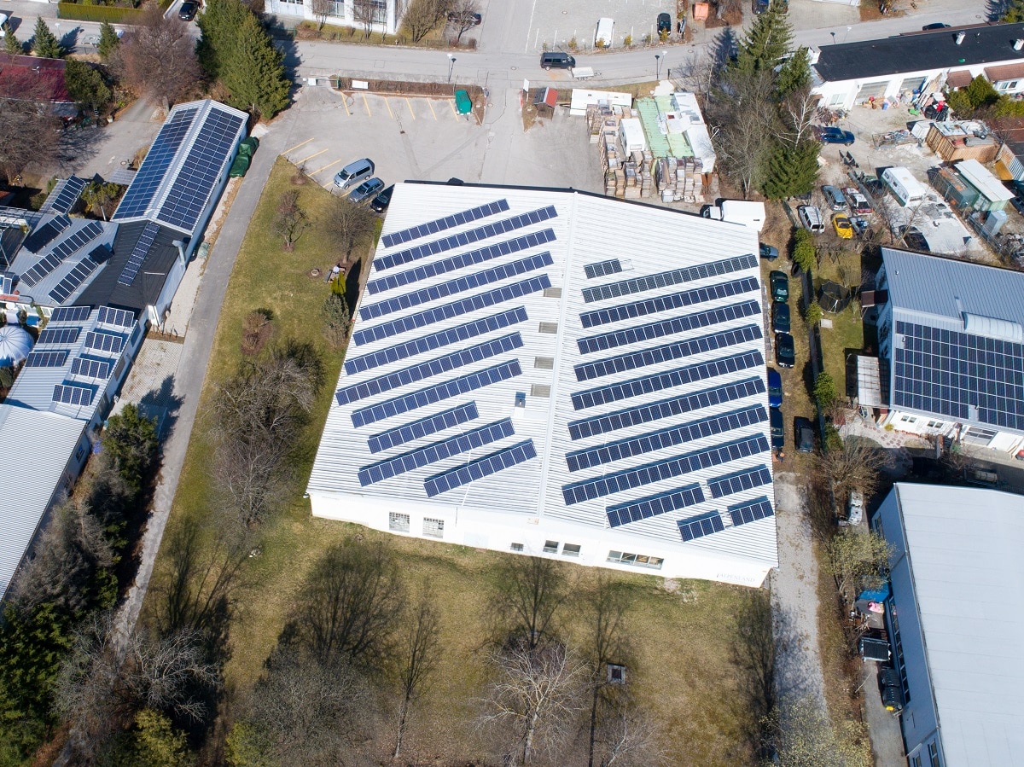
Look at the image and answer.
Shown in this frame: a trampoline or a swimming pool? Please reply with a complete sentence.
This aerial view contains a trampoline.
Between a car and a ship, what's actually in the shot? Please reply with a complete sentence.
There is a car in the scene.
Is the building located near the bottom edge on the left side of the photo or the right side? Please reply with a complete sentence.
You can find the building located near the bottom edge on the right side of the picture.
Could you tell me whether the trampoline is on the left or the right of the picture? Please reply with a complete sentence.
You can find the trampoline on the right side of the picture.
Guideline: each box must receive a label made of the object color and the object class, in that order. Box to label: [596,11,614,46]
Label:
white vehicle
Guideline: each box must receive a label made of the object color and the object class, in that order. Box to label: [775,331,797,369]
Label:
black car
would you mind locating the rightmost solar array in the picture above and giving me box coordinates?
[894,320,1024,431]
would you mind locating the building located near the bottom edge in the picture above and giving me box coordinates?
[869,483,1024,767]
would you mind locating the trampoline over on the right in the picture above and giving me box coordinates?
[816,275,858,313]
